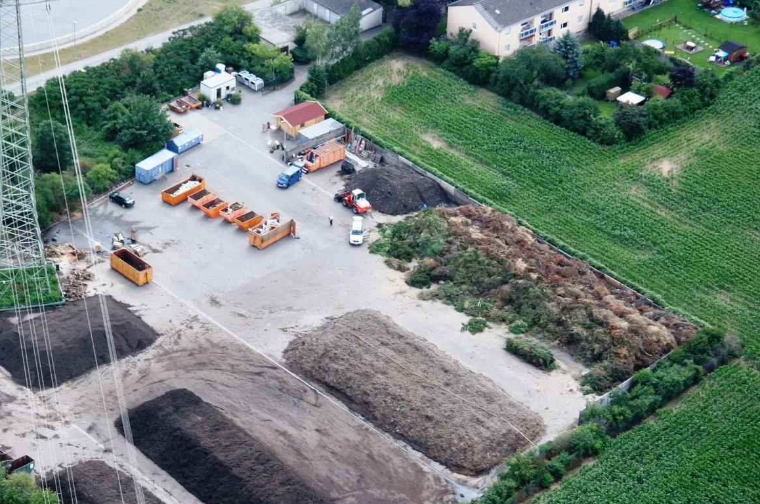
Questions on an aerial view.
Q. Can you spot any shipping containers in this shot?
Yes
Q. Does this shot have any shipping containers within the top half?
Yes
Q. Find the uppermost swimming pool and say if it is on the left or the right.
right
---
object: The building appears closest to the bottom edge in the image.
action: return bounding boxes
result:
[271,102,327,139]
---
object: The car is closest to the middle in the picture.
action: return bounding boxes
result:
[350,211,371,239]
